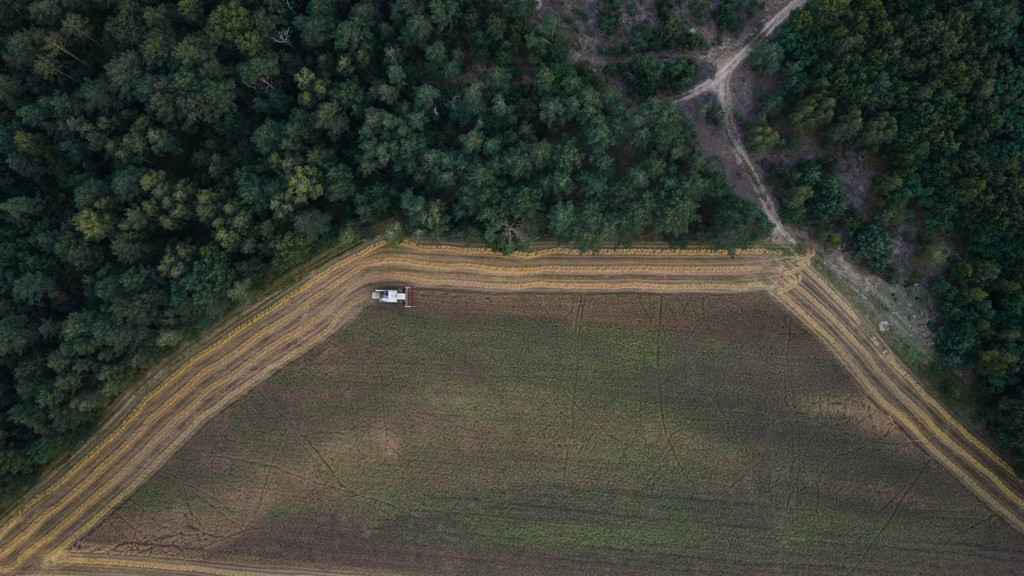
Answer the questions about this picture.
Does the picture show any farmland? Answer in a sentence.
Yes, there is farmland in the image.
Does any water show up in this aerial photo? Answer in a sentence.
No, there's no water in this view.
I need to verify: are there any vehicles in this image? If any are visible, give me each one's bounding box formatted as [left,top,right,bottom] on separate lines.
[371,287,412,307]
